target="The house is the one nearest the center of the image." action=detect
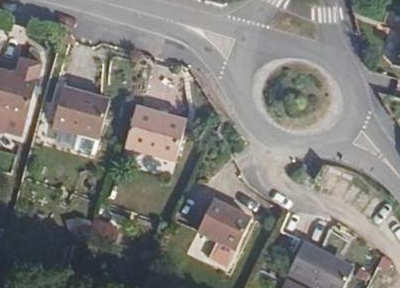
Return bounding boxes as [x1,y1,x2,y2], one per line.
[126,105,188,163]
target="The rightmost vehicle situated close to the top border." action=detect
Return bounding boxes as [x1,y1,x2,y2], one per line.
[56,12,77,28]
